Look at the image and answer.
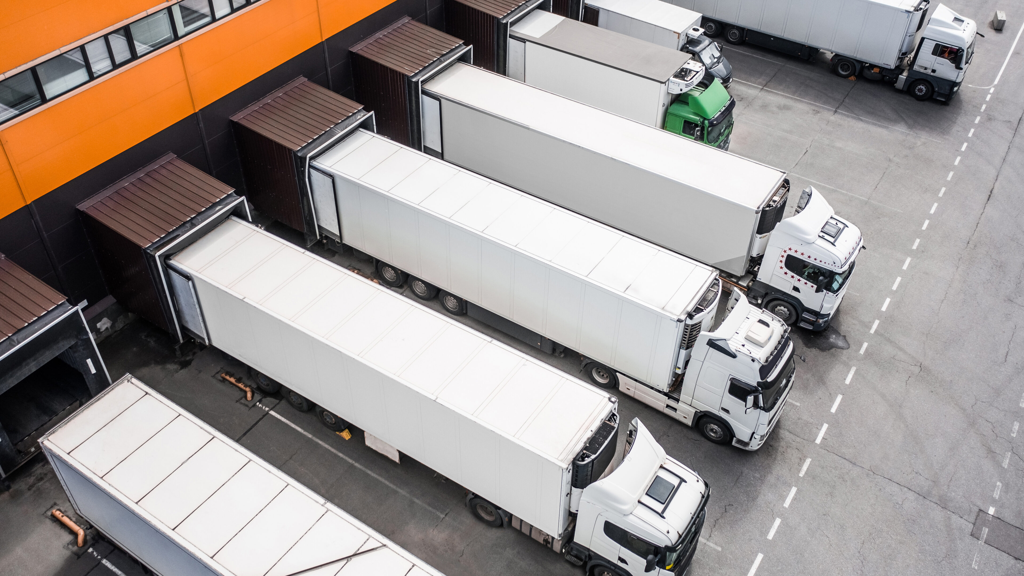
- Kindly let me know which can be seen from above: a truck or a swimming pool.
truck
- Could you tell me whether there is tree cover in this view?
No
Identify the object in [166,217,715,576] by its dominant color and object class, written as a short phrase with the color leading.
white truck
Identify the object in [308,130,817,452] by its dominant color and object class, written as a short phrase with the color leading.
white truck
